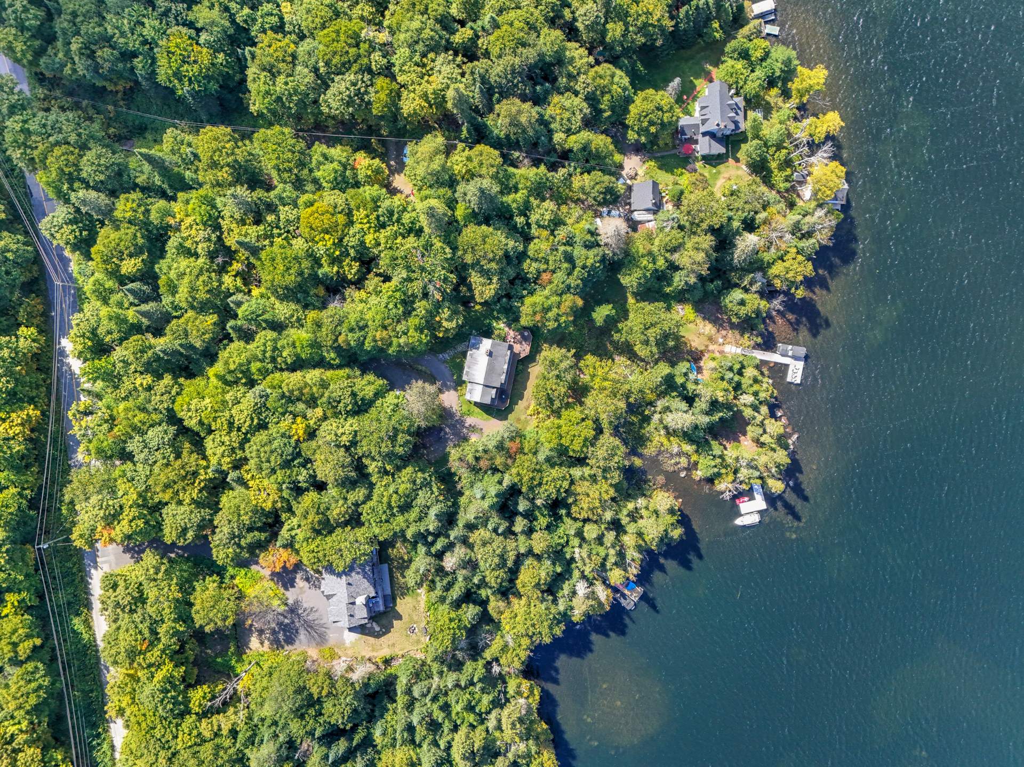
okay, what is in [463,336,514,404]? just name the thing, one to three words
house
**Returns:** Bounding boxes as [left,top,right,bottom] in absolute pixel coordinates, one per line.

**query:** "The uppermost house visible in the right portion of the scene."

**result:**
[676,81,745,159]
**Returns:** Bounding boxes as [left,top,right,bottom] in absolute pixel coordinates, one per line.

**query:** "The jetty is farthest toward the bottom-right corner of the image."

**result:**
[739,482,766,514]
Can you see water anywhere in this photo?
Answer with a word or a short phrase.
Yes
